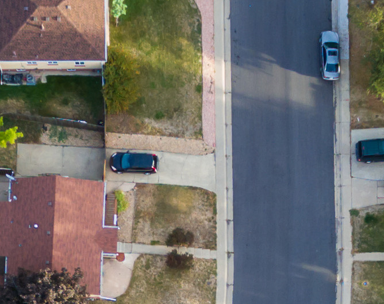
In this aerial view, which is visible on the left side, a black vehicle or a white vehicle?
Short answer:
black vehicle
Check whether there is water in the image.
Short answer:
No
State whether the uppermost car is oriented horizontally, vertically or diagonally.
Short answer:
vertically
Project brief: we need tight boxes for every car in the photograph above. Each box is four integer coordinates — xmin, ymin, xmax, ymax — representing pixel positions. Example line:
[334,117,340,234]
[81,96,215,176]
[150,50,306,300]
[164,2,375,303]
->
[319,31,342,81]
[355,139,384,161]
[109,149,159,175]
